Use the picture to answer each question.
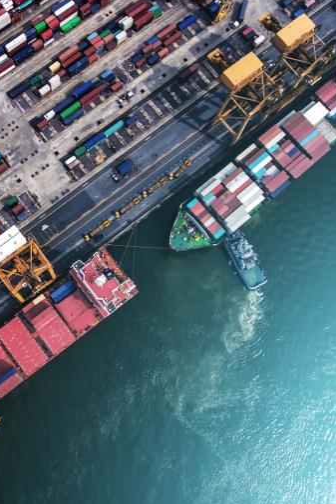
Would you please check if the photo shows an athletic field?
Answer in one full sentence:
No, no athletic field can be seen from above.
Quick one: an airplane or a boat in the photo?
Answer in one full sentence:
There is a boat in the scene.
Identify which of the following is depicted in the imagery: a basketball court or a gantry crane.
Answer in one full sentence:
The image shows a gantry crane.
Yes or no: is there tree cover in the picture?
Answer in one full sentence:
No, the picture contains no tree cover.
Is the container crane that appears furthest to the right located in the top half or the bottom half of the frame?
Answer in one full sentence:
Seen from above, the container crane that appears furthest to the right lies in the top half of the view.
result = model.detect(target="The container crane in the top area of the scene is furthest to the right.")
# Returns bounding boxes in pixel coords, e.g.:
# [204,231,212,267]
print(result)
[255,13,336,111]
